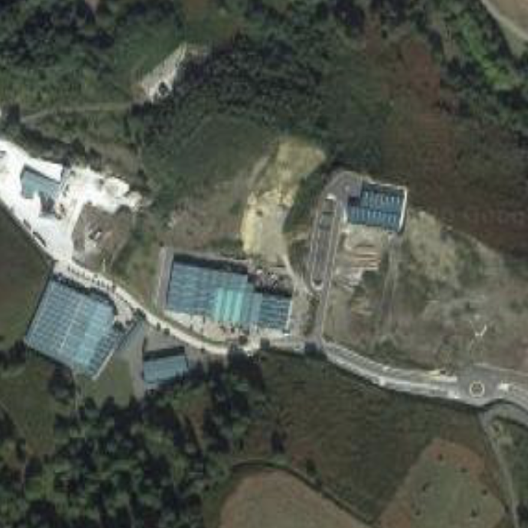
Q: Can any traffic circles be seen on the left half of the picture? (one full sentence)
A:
No, the scene shows no traffic circle on the left half of the picture.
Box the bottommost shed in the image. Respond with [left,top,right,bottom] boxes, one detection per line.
[144,355,188,385]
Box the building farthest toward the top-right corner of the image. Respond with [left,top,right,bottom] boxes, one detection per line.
[343,184,408,232]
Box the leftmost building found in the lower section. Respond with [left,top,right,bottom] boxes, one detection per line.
[25,280,119,379]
